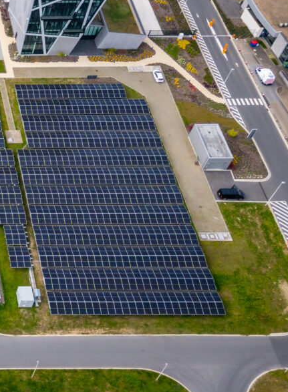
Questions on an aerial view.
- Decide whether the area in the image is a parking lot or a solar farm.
solar farm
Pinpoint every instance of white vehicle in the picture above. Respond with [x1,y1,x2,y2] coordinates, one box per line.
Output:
[150,69,166,84]
[254,67,278,87]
